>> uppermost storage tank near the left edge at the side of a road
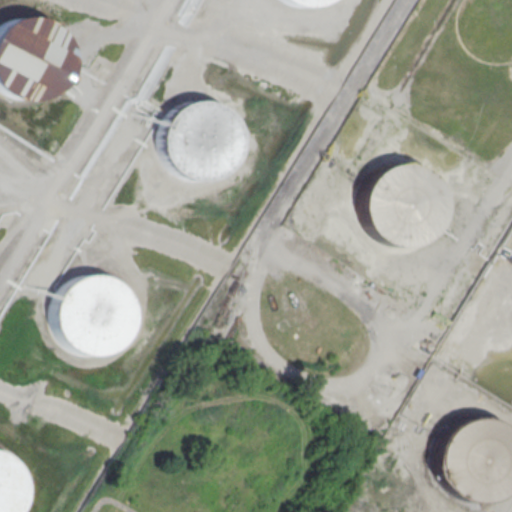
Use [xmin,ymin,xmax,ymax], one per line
[0,16,82,108]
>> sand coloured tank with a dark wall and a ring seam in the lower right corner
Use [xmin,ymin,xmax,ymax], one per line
[426,414,512,508]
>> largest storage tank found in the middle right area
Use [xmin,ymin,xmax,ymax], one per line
[352,161,454,255]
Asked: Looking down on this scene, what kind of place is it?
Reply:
industrial area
